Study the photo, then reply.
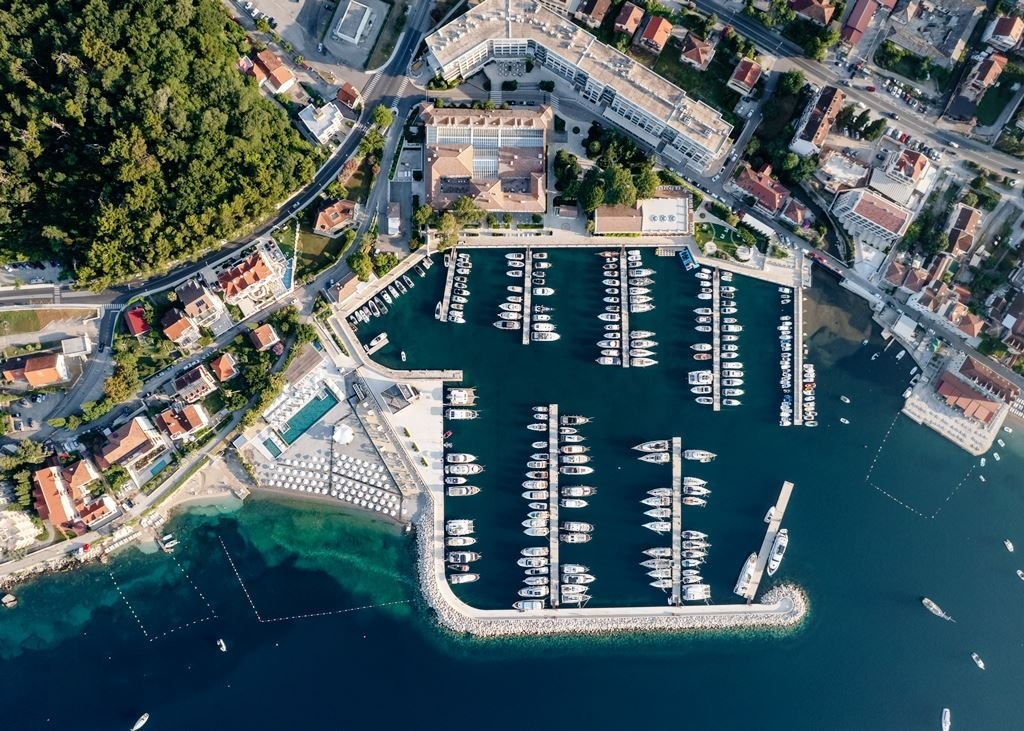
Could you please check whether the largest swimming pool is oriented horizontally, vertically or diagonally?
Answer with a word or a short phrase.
diagonally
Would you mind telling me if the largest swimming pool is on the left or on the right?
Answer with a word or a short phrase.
left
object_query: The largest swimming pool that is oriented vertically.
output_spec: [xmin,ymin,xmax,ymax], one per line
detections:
[280,258,293,291]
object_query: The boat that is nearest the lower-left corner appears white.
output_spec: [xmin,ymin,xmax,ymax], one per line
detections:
[132,713,147,730]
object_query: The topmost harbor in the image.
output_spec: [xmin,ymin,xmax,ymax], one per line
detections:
[320,233,812,319]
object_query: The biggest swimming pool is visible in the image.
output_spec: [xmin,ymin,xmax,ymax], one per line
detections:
[277,385,340,447]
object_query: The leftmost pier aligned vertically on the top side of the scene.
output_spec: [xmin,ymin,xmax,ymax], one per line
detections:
[440,247,458,321]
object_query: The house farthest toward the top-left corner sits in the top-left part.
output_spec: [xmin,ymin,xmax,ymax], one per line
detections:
[238,47,298,93]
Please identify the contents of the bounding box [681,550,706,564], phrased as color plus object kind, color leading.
white boat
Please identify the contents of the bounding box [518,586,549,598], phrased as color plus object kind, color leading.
white boat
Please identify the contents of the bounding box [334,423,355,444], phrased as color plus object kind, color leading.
white tent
